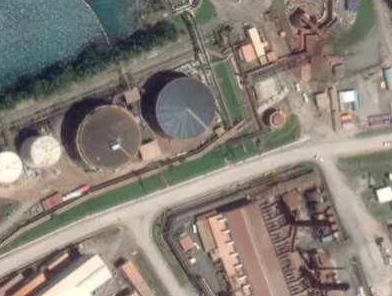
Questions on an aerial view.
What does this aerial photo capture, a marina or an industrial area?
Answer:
industrial area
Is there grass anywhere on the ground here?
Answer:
Yes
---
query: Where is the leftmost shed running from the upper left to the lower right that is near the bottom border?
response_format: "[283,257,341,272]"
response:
[120,260,154,296]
